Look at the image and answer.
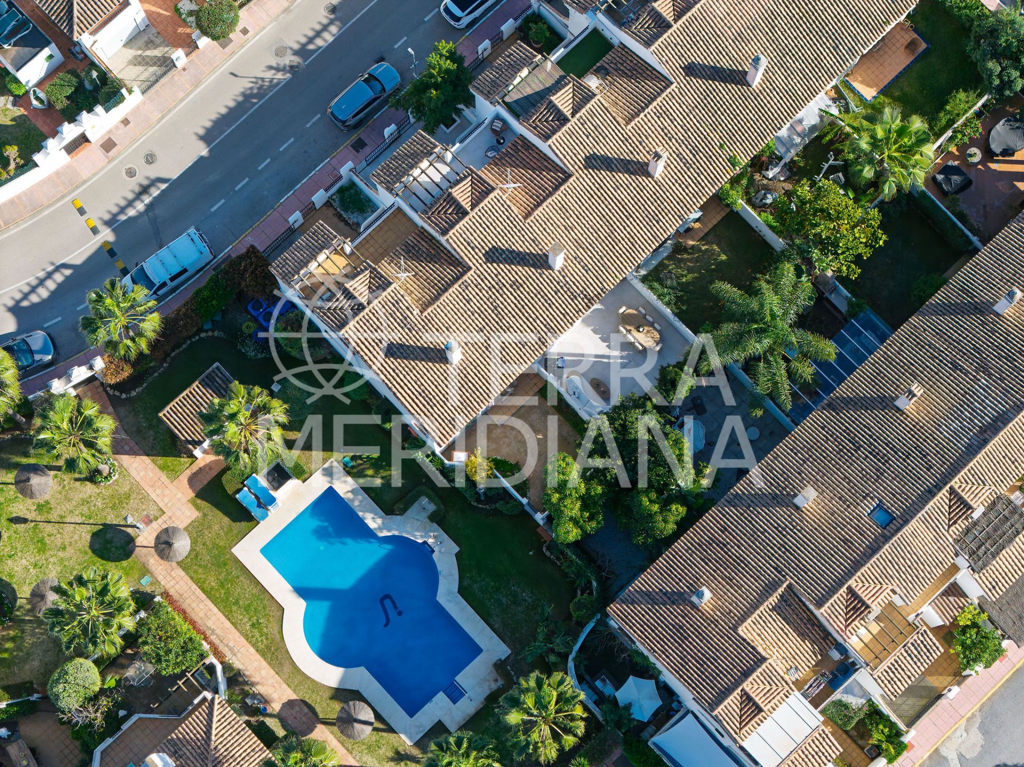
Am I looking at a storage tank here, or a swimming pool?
swimming pool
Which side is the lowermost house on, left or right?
left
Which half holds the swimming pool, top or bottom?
bottom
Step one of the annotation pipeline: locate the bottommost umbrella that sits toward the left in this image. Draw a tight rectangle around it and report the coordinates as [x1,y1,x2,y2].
[336,700,375,741]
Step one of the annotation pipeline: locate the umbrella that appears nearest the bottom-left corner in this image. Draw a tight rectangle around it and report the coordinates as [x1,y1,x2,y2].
[26,579,62,614]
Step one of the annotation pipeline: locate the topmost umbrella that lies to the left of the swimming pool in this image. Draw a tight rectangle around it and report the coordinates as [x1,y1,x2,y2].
[15,463,52,501]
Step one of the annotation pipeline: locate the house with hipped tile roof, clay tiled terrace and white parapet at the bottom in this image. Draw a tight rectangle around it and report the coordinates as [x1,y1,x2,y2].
[93,656,284,767]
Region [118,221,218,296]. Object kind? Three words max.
van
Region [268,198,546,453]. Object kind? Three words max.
house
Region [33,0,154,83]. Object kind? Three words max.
house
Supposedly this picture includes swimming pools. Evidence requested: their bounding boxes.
[261,487,483,718]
